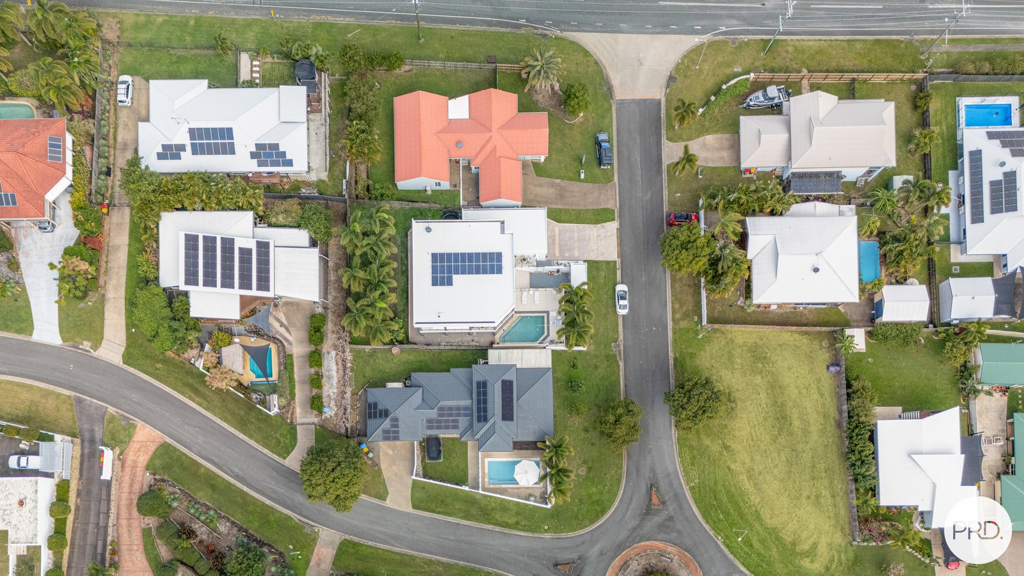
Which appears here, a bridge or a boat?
boat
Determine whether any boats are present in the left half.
No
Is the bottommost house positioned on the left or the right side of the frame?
left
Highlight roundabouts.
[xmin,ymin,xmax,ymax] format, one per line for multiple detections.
[606,541,703,576]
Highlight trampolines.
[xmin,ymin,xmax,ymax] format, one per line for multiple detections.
[441,201,460,219]
[425,436,443,464]
[293,58,317,92]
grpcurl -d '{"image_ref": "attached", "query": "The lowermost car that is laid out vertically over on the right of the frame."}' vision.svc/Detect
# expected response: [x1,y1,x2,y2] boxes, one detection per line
[614,283,629,315]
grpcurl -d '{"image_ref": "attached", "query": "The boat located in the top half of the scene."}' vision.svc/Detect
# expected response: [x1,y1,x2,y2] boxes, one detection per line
[742,80,798,105]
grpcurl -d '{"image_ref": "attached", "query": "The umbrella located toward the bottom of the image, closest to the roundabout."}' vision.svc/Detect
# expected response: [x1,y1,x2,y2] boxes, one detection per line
[515,461,539,485]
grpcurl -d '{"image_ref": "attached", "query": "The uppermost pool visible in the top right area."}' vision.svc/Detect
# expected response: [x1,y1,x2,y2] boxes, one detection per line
[963,101,1015,128]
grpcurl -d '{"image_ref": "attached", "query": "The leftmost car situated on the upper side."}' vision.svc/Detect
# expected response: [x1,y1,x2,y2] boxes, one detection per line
[38,207,54,238]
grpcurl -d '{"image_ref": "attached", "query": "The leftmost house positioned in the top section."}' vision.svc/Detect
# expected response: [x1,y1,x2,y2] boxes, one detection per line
[0,118,81,227]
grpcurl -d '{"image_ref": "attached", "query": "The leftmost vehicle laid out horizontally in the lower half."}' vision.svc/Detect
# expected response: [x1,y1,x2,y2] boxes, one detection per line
[10,454,40,469]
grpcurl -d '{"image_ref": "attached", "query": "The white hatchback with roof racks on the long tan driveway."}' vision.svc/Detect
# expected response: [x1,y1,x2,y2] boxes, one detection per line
[117,76,133,107]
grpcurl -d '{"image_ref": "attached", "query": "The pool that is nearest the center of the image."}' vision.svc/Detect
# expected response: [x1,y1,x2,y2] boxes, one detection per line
[498,313,546,345]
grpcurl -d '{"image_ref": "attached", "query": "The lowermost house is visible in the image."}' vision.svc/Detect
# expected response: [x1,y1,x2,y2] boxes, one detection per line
[0,476,53,545]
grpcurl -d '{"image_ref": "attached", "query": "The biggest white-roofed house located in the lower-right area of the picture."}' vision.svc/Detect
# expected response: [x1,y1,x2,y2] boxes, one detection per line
[872,406,977,528]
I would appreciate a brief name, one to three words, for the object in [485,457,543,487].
swimming pool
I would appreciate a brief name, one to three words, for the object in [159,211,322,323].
house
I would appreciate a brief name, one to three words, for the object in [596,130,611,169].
vehicle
